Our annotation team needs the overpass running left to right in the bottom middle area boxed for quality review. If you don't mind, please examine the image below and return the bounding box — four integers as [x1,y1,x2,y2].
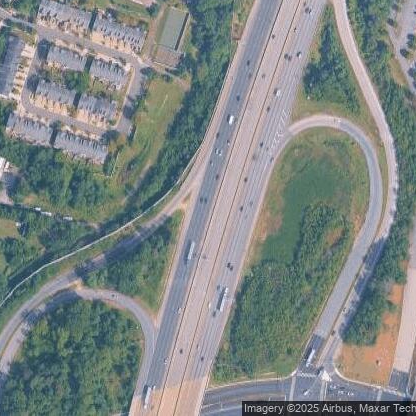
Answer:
[128,377,208,416]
